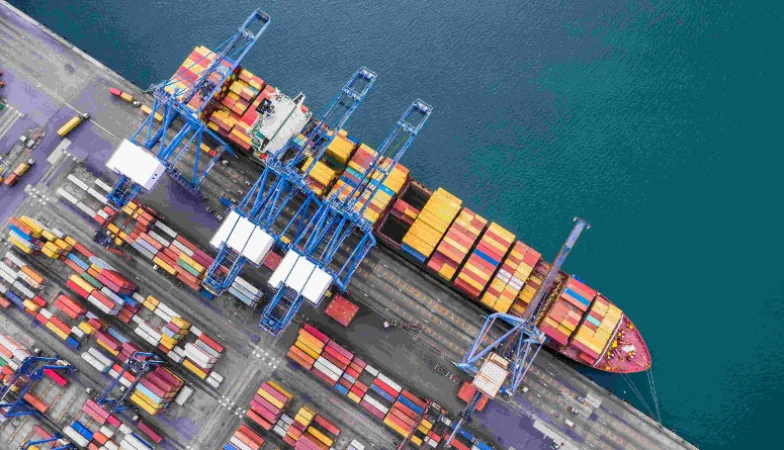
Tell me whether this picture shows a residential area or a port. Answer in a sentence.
What you see here is a port.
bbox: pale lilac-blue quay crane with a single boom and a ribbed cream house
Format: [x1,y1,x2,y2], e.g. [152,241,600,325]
[441,212,590,449]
